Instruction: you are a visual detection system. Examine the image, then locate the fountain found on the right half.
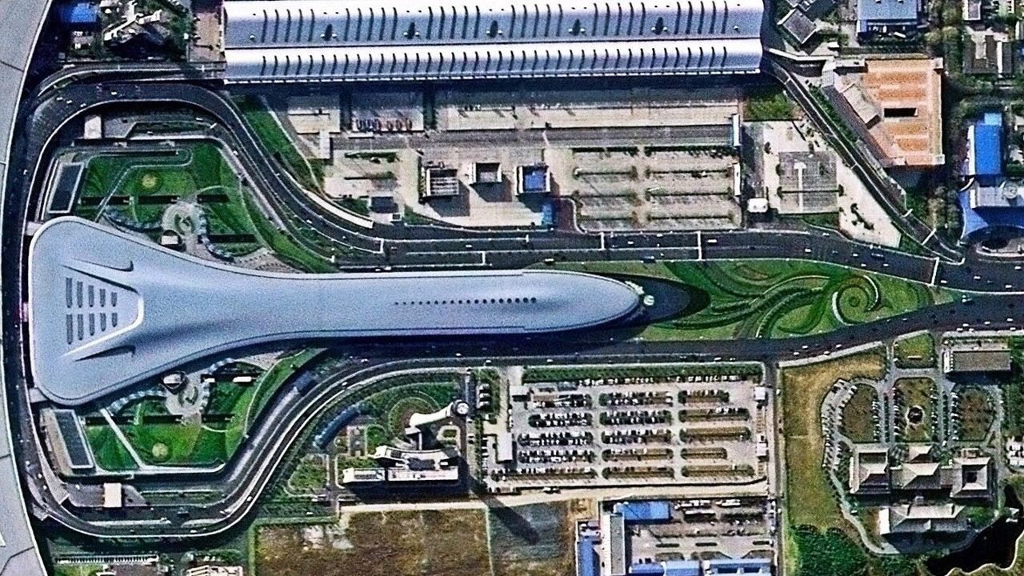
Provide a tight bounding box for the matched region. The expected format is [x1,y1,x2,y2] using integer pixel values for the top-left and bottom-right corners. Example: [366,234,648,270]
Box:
[907,406,924,424]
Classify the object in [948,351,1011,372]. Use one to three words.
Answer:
building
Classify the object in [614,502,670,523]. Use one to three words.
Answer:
shed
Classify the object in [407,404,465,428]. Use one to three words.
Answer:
building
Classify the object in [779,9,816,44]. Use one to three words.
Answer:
house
